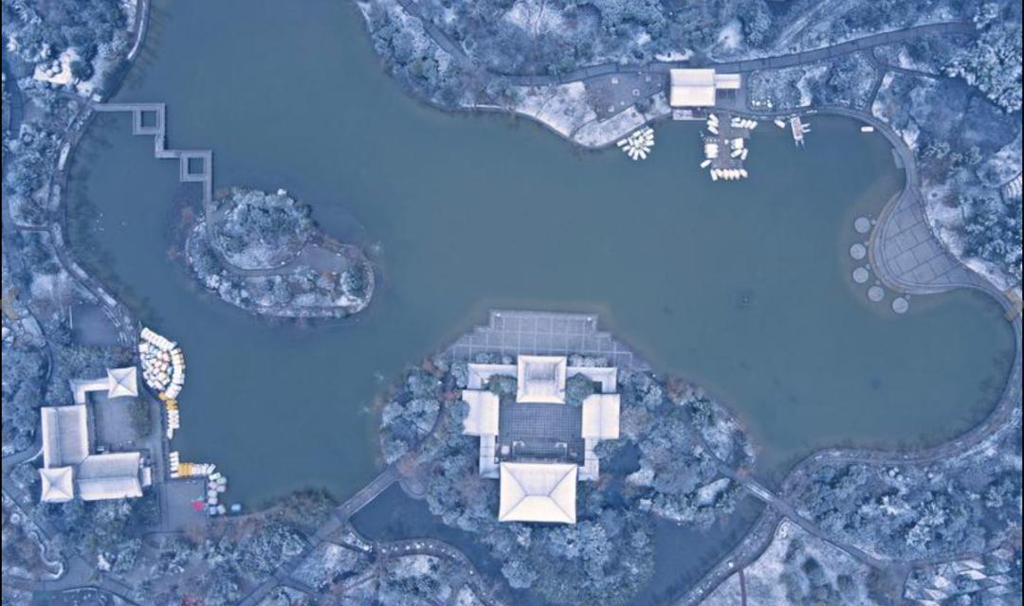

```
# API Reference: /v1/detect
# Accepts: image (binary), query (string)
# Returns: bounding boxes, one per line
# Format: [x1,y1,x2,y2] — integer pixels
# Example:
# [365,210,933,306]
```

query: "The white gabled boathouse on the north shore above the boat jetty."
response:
[670,69,717,106]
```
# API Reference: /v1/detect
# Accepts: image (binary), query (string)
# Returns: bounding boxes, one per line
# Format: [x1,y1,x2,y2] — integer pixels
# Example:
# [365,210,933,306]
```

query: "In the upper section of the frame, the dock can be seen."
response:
[703,113,750,169]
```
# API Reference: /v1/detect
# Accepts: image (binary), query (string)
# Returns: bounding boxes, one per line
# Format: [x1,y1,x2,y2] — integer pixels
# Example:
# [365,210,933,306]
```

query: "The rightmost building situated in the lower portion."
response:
[582,394,620,440]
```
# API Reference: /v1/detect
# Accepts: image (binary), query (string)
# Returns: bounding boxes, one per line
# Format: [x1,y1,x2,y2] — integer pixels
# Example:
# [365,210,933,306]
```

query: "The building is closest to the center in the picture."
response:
[516,355,568,404]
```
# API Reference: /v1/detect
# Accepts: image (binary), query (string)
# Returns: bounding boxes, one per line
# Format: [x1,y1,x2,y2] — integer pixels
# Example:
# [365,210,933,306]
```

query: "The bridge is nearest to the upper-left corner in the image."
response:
[91,103,213,207]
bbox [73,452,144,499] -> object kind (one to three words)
building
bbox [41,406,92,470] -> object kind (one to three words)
building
